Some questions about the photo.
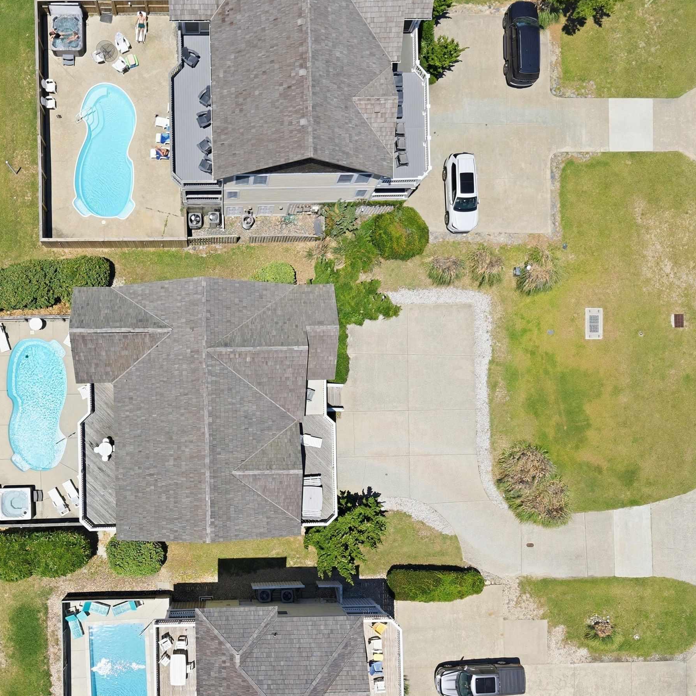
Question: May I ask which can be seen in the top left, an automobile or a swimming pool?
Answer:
swimming pool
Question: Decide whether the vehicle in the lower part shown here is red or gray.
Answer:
gray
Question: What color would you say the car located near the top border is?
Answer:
black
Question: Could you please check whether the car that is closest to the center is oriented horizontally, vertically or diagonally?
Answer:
vertically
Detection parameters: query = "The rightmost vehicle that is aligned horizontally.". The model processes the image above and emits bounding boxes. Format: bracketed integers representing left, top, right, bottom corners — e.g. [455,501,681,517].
[431,656,528,696]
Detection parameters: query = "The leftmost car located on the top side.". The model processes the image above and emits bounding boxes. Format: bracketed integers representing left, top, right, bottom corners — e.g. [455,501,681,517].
[437,153,478,234]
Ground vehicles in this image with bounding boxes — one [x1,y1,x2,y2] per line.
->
[431,656,528,696]
[496,4,539,93]
[437,153,478,234]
